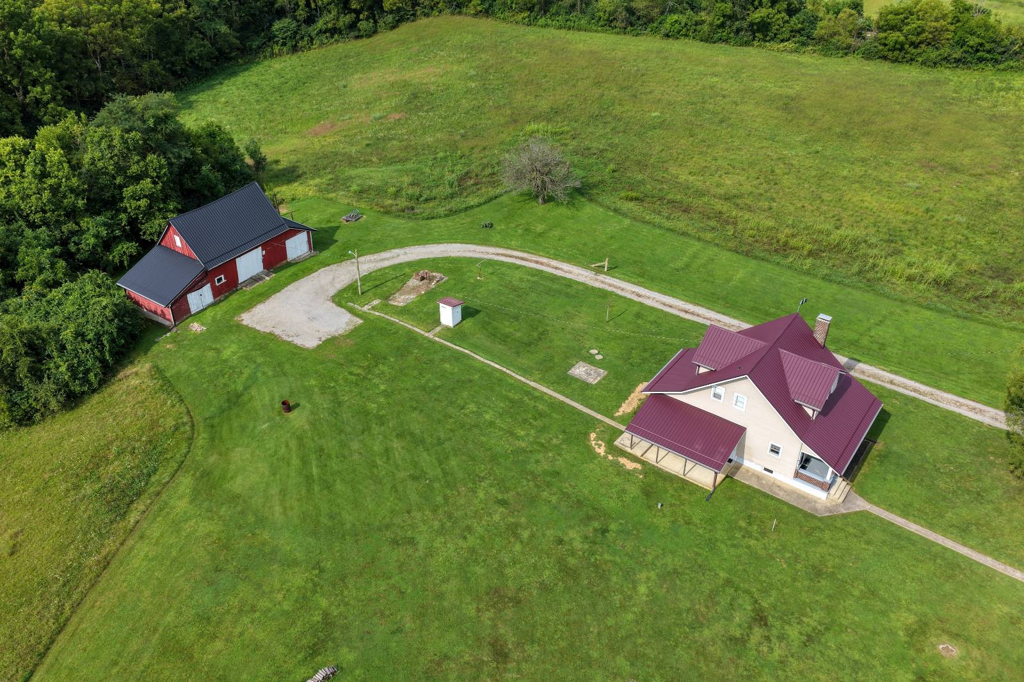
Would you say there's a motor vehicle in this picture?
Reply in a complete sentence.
No, I can't see a single motor vehicle in this photo.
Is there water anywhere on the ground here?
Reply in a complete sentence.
No, there's no water in this view.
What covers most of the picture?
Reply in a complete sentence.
Most of the picture is covered by grass.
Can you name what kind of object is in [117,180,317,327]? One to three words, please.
barn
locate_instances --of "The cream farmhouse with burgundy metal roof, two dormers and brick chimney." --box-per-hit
[613,300,885,507]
